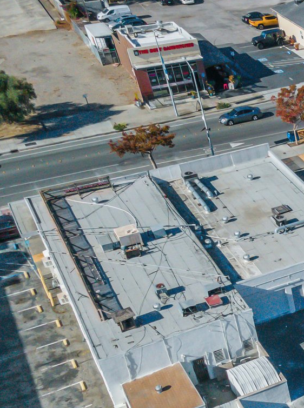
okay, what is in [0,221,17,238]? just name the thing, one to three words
car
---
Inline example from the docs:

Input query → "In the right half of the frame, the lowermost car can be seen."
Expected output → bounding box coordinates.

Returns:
[218,105,264,125]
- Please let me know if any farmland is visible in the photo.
No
